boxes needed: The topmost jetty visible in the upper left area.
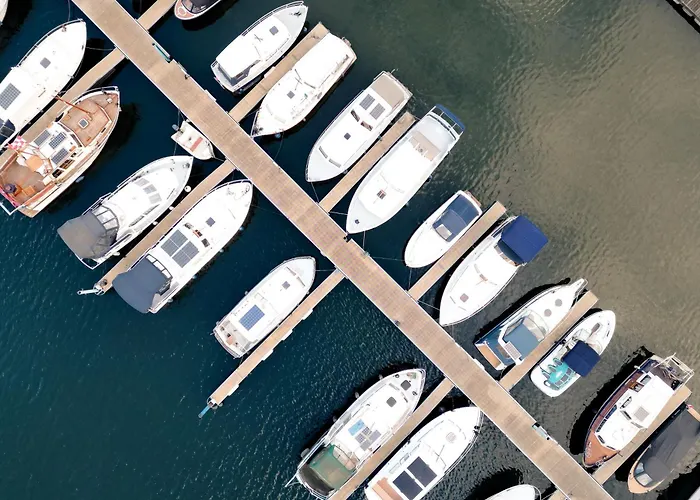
[133,0,172,33]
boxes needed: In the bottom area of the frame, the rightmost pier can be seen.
[590,387,692,490]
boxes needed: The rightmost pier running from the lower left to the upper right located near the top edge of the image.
[226,22,330,125]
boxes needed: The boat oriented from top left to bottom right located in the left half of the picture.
[171,119,213,159]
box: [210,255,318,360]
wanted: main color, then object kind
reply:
white boat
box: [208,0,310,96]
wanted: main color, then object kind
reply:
white boat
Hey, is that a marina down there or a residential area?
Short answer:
marina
